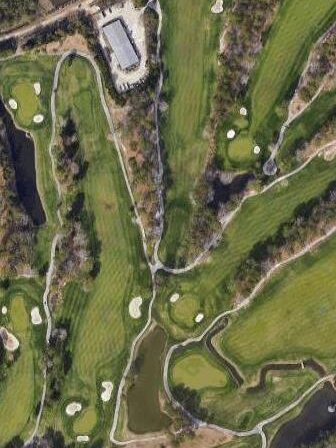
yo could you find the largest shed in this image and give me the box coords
[103,20,139,68]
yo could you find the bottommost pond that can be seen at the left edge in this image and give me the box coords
[0,102,47,226]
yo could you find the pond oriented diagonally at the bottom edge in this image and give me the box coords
[270,380,336,448]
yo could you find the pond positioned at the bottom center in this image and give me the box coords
[126,324,172,433]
